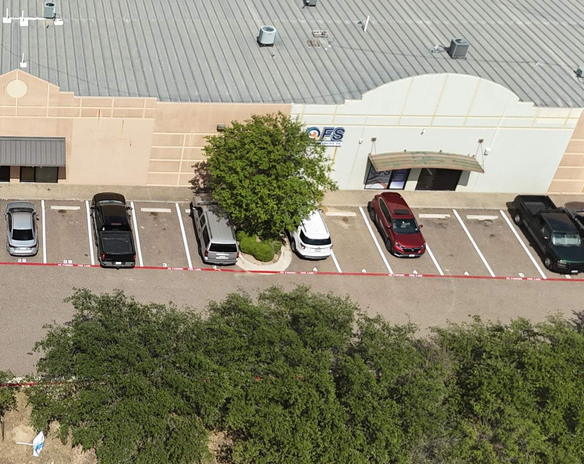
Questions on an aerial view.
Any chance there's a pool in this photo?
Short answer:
No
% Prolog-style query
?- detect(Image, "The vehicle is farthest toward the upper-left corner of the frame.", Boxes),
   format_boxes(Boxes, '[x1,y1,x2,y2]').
[4,201,42,257]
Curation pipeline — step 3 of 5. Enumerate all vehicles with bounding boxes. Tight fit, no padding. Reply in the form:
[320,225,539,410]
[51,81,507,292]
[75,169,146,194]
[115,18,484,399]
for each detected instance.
[4,201,42,257]
[371,197,423,258]
[279,203,332,259]
[511,200,584,273]
[192,201,239,265]
[90,199,133,269]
